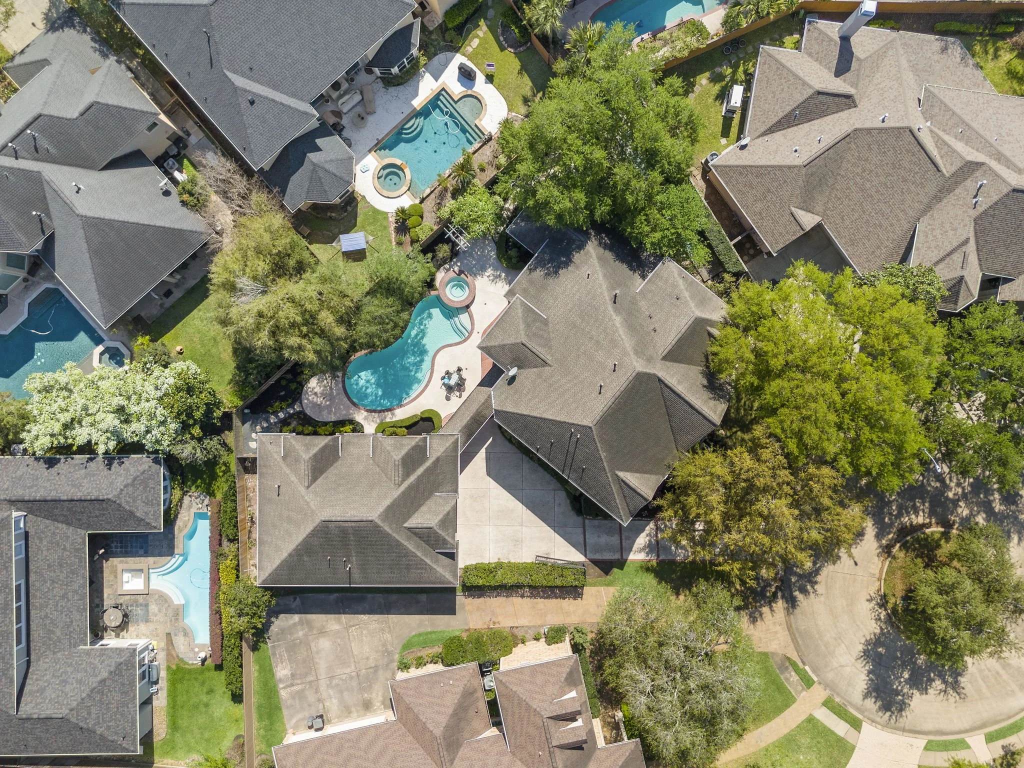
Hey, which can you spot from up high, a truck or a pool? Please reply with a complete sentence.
The one in the frame is a pool.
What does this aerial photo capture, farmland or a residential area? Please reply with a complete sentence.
This image shows a residential area.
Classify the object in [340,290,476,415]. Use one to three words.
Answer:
swimming pool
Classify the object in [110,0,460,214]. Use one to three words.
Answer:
house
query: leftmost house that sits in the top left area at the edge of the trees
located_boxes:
[0,6,217,330]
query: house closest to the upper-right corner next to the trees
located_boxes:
[707,0,1024,313]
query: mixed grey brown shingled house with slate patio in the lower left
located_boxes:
[0,453,187,757]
